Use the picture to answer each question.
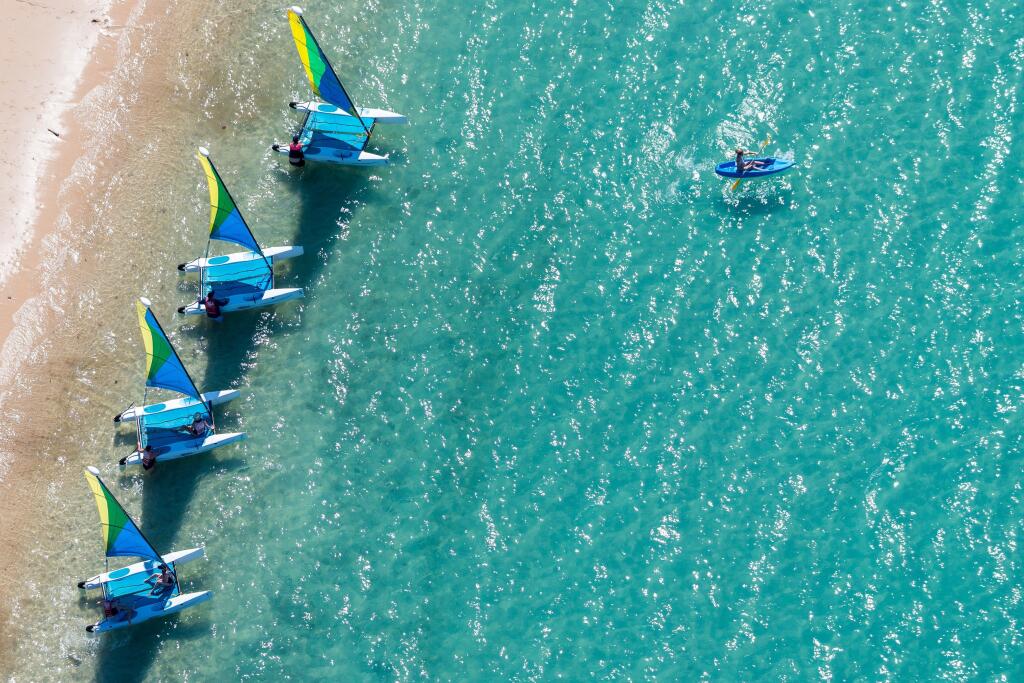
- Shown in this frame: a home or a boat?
boat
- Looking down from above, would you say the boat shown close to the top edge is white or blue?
blue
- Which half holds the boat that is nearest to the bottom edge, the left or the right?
left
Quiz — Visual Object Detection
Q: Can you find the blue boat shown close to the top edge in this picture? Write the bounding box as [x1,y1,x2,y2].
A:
[274,7,407,167]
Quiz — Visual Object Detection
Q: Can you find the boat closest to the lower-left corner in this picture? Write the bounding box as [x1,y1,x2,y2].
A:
[77,468,217,637]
